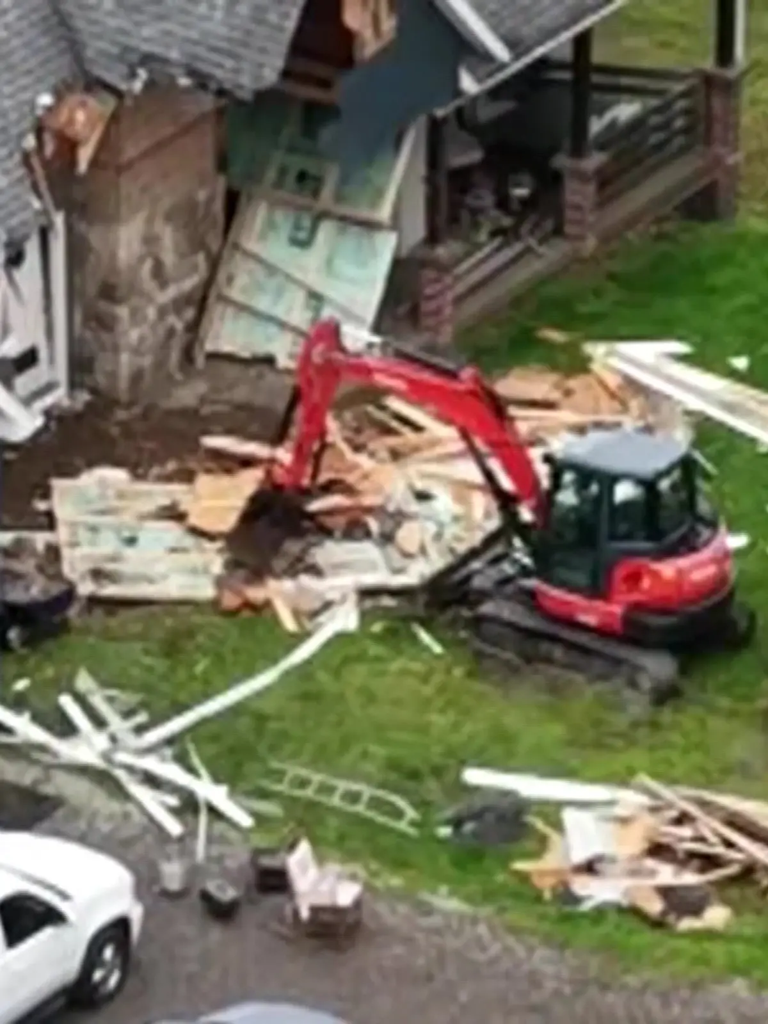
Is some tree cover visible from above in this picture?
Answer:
No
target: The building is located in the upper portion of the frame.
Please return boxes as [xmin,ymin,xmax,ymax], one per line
[0,0,753,445]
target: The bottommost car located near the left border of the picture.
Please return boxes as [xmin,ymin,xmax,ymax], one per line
[0,812,137,1024]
